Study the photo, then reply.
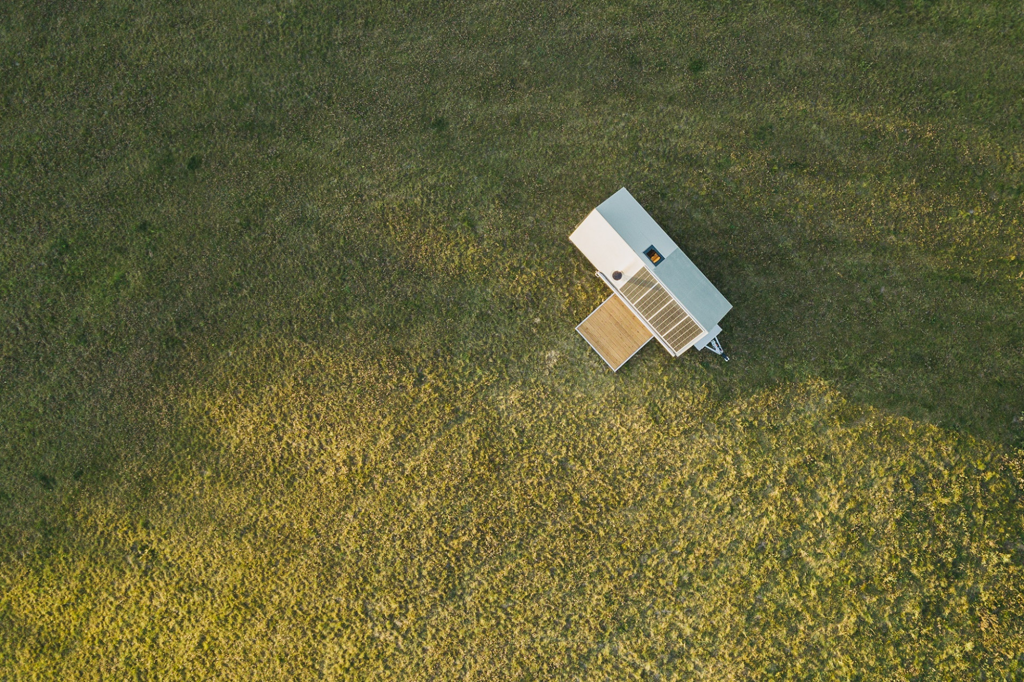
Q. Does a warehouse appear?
No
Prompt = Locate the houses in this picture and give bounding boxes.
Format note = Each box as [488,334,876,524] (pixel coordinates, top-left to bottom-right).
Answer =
[569,186,733,361]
